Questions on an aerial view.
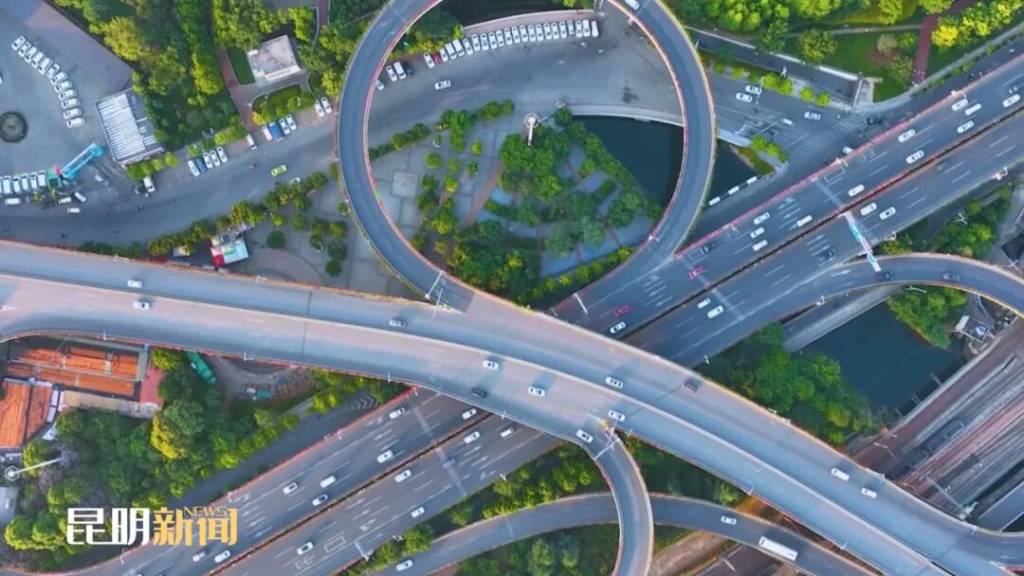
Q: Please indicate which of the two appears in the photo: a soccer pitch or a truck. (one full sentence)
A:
I can see a truck in this picture.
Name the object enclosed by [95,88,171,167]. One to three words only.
building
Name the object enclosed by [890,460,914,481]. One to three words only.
rail car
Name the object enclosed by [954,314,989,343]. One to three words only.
shed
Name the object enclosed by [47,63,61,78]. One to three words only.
vehicle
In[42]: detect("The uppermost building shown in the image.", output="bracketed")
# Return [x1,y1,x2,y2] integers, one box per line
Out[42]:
[247,34,304,87]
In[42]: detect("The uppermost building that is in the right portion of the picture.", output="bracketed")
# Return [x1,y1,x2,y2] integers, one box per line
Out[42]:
[993,226,1024,275]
